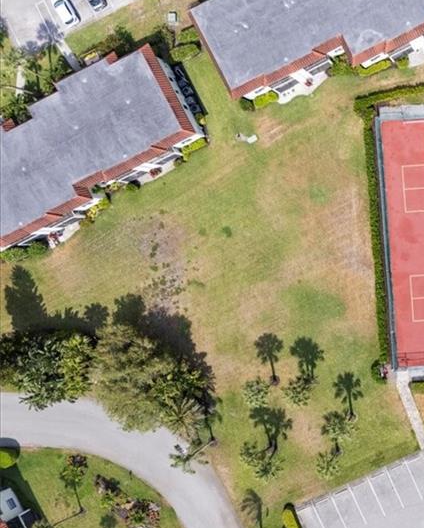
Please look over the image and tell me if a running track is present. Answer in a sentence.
No, the frame has no running track in it.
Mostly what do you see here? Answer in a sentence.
What you mostly see from above here is grass.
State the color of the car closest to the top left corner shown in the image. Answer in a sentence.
The color of the car closest to the top left corner is white.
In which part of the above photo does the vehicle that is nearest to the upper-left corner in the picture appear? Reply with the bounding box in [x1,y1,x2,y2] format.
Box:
[50,0,82,28]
